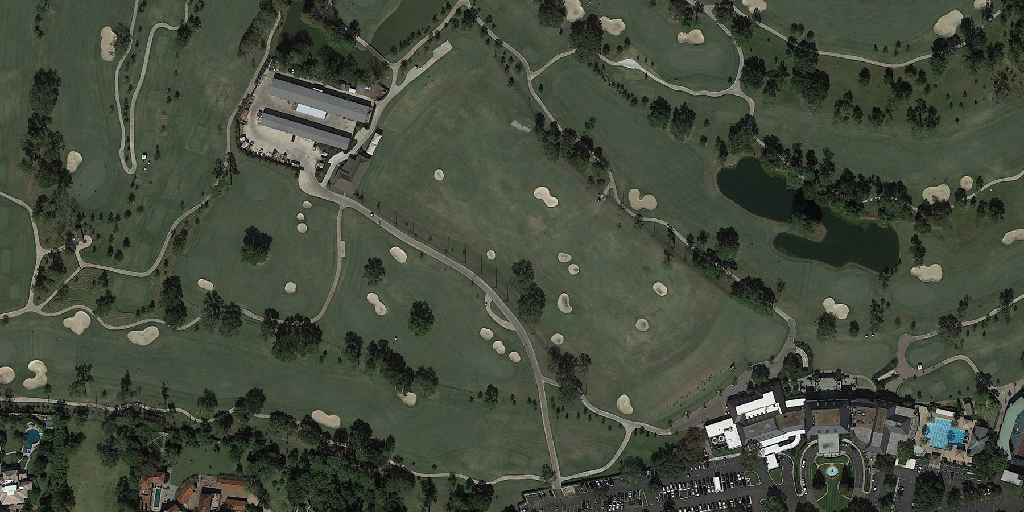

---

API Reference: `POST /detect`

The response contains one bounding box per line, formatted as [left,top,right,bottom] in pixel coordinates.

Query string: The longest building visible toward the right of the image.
[705,380,917,469]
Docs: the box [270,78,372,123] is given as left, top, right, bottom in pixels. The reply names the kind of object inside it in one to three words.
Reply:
shed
